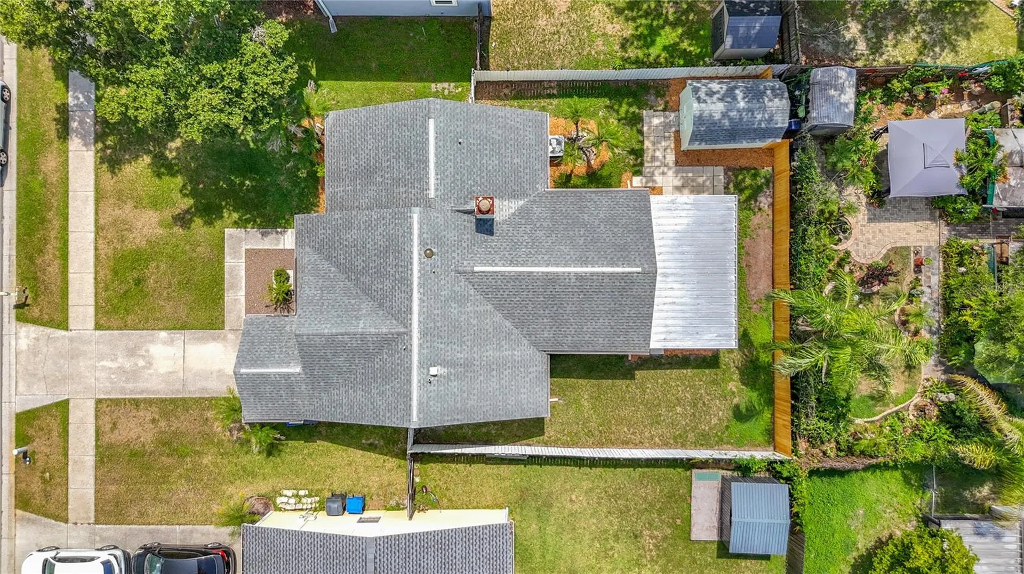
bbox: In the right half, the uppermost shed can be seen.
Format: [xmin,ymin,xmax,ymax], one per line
[715,0,782,58]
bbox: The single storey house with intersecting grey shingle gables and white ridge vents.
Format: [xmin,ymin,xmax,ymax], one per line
[233,98,659,429]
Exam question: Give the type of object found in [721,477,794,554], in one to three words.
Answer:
shed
